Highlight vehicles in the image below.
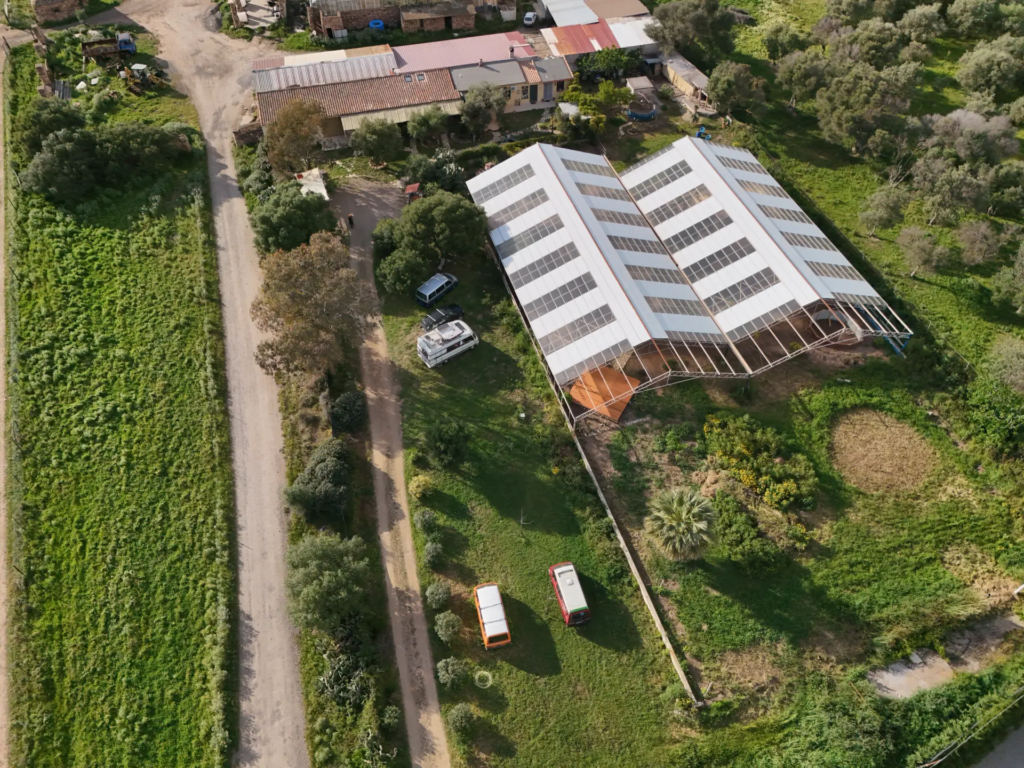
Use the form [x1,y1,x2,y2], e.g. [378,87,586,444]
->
[122,60,171,88]
[419,304,468,333]
[549,562,589,627]
[470,584,509,651]
[418,274,461,310]
[80,33,139,59]
[524,10,536,26]
[416,320,483,364]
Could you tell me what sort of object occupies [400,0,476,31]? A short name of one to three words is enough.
shed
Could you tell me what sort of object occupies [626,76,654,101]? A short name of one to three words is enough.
shed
